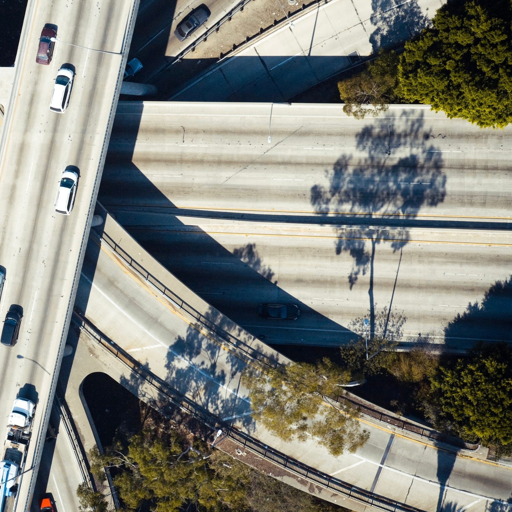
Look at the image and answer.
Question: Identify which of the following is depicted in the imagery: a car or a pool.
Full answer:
There is a car in the scene.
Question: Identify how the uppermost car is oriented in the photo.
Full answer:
The uppermost car is laid out at an angle.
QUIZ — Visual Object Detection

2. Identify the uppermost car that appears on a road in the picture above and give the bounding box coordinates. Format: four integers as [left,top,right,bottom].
[173,3,212,42]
